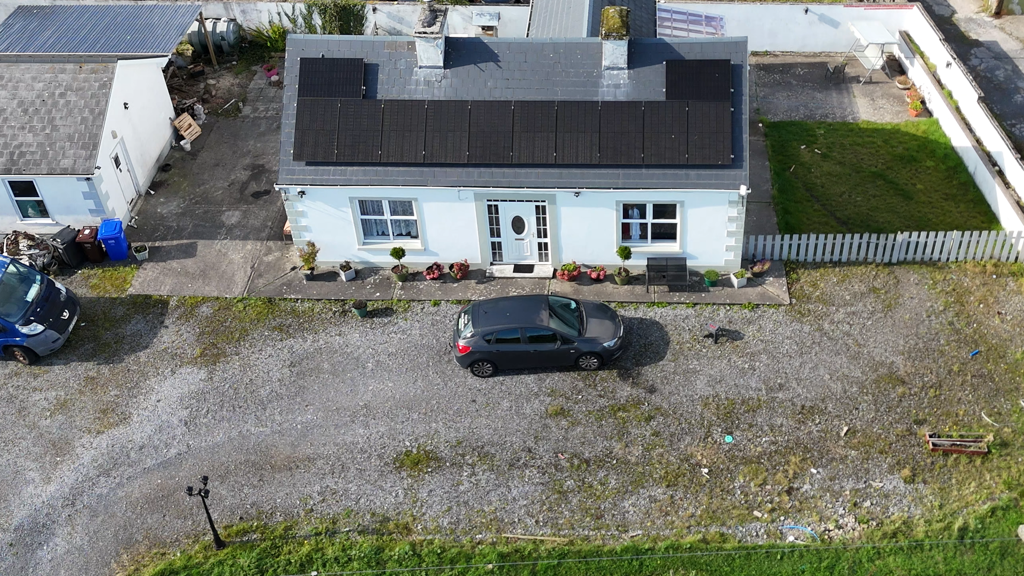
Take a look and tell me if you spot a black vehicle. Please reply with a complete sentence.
Yes, looking at the shot, I can spot a black vehicle.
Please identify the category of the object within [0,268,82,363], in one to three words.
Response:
van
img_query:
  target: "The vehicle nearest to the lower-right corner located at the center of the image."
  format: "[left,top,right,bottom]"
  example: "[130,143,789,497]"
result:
[448,290,625,378]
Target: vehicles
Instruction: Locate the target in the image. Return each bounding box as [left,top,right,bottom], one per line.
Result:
[0,268,82,363]
[448,290,625,378]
